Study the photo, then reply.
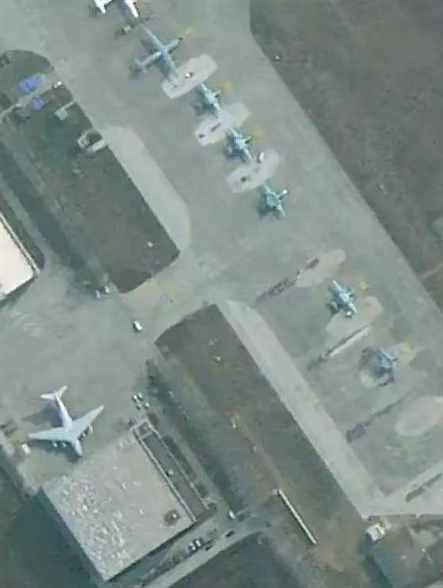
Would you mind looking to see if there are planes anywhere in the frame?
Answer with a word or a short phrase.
Yes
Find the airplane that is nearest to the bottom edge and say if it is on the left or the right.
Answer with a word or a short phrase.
left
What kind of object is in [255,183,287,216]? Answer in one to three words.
airplane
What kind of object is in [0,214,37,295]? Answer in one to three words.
hangar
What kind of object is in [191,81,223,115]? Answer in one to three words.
airplane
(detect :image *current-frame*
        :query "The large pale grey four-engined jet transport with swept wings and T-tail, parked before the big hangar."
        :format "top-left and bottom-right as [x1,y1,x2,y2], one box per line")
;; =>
[28,380,105,457]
